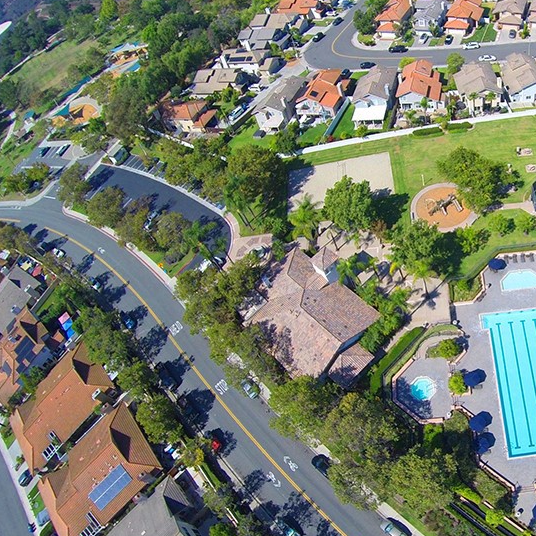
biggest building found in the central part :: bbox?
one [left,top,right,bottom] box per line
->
[229,247,380,389]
